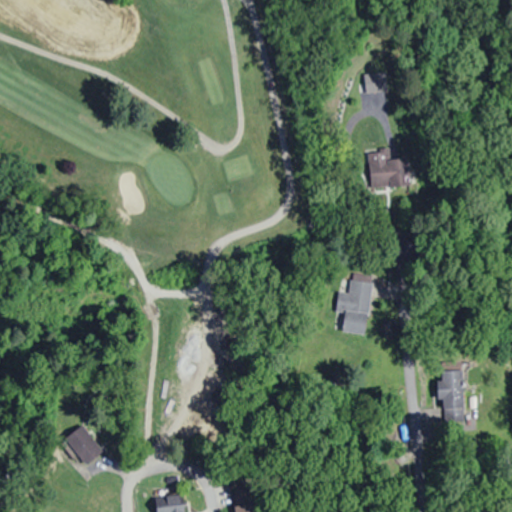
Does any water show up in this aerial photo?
No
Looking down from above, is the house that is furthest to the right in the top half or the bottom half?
bottom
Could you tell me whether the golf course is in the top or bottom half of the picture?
top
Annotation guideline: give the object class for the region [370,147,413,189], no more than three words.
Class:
house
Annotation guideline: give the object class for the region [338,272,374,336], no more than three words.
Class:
house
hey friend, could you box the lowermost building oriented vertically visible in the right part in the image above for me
[438,362,469,422]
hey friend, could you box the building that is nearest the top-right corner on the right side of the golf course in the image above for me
[364,73,384,94]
